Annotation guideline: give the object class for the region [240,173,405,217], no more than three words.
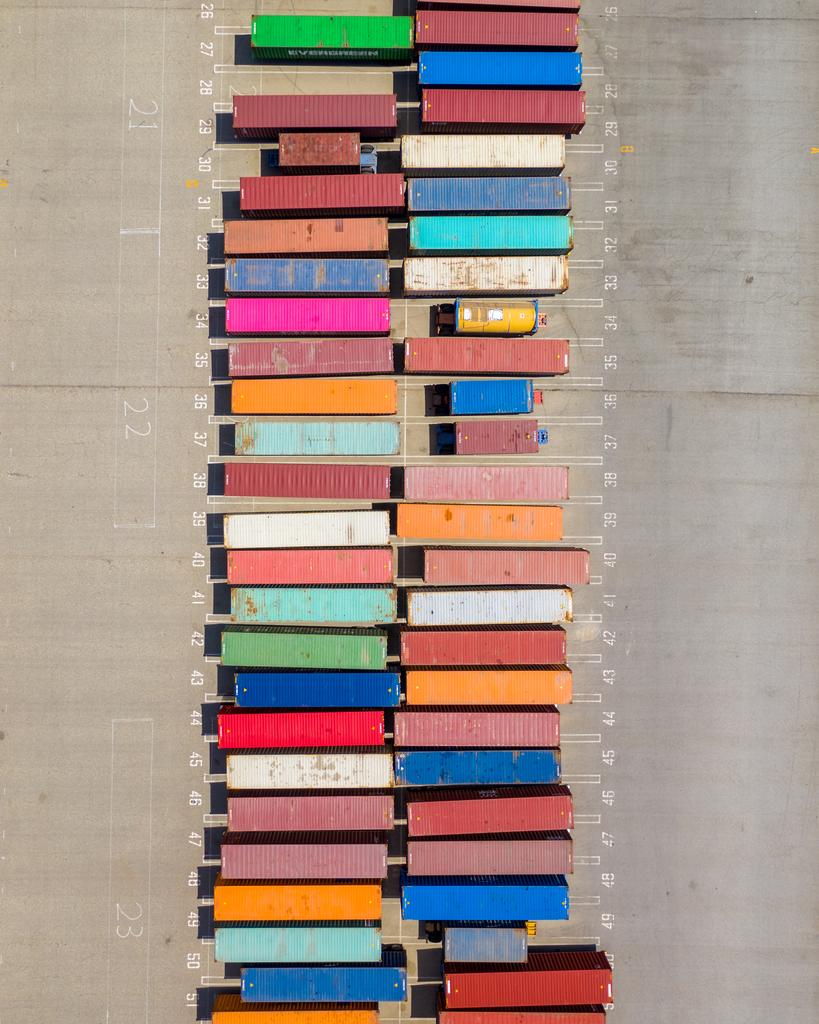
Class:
shipping container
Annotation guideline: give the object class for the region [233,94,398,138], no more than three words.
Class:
shipping container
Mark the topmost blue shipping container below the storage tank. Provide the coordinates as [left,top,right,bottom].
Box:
[449,379,533,415]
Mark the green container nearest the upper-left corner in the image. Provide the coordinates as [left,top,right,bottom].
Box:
[251,15,415,60]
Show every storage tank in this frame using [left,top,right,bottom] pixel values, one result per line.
[458,303,535,333]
